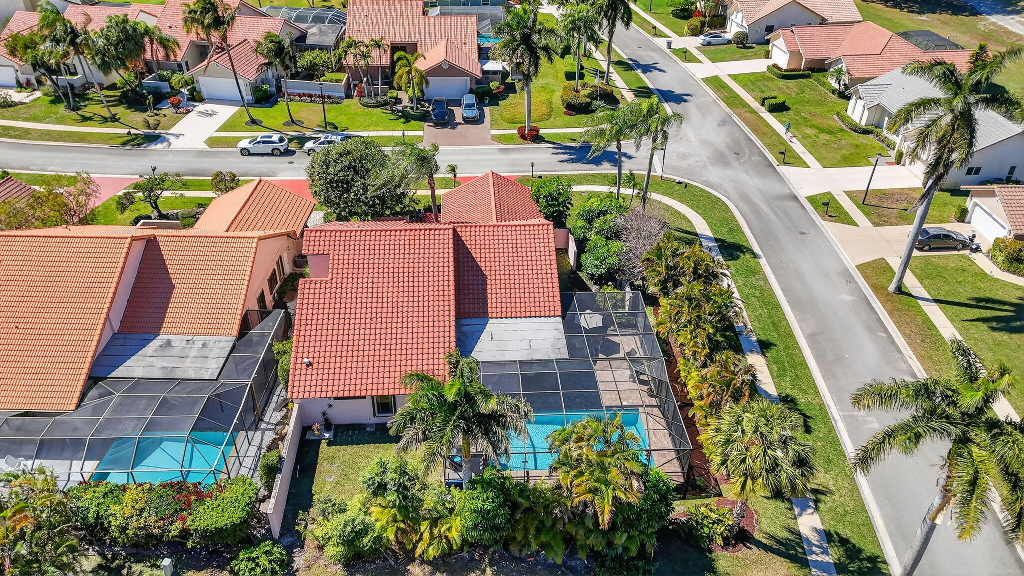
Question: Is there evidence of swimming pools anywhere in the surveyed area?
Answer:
Yes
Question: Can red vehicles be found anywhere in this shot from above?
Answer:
No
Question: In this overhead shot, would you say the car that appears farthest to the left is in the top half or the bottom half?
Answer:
top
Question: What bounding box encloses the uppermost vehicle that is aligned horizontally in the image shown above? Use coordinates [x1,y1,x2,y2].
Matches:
[700,31,737,46]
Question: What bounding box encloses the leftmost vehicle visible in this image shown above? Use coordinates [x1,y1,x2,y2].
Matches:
[235,132,290,157]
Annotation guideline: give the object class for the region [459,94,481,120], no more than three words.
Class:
car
